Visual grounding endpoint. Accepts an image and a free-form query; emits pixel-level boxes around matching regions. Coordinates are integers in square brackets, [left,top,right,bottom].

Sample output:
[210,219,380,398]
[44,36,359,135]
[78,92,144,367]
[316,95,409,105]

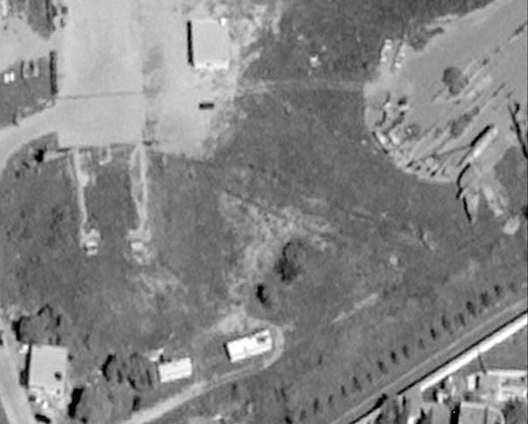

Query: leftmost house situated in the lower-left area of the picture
[27,345,68,411]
